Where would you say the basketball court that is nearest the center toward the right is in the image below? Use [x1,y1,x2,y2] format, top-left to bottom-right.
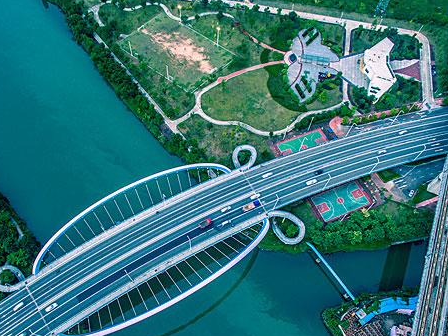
[270,125,330,158]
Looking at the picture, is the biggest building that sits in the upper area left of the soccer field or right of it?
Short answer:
to its right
